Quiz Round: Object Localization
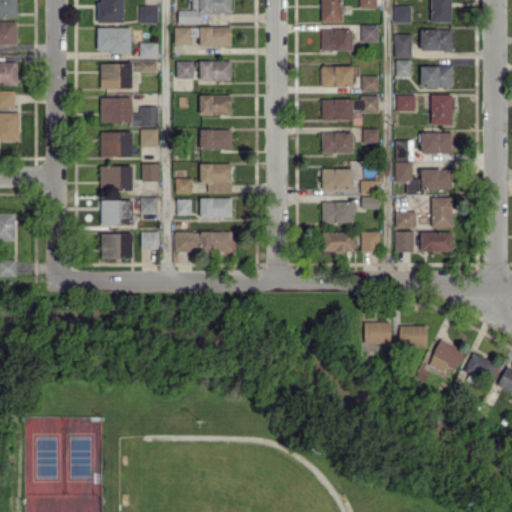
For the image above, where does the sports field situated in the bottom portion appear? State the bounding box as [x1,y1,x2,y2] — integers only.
[120,438,338,512]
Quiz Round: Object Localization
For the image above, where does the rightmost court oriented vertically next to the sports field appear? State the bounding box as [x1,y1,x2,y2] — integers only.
[65,418,102,494]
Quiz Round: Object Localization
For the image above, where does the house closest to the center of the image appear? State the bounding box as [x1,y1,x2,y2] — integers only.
[200,232,234,254]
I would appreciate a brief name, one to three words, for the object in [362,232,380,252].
building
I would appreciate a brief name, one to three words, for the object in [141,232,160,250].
building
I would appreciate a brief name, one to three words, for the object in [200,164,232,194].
house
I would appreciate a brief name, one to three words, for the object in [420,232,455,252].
house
